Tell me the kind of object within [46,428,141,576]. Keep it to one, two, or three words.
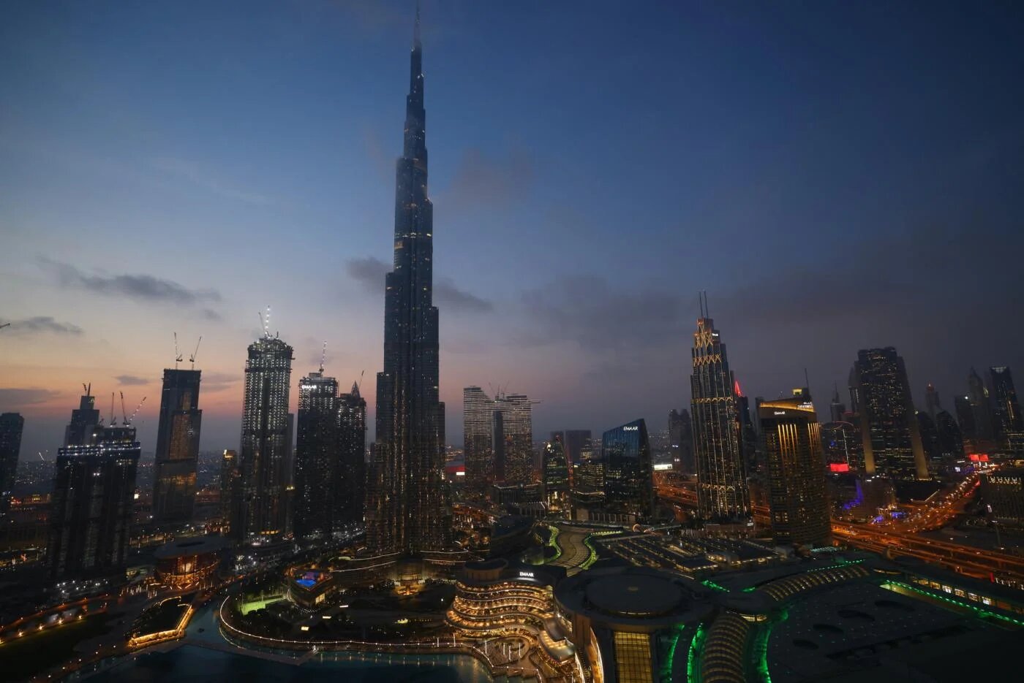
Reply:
building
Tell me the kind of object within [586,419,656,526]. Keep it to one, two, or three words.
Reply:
building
